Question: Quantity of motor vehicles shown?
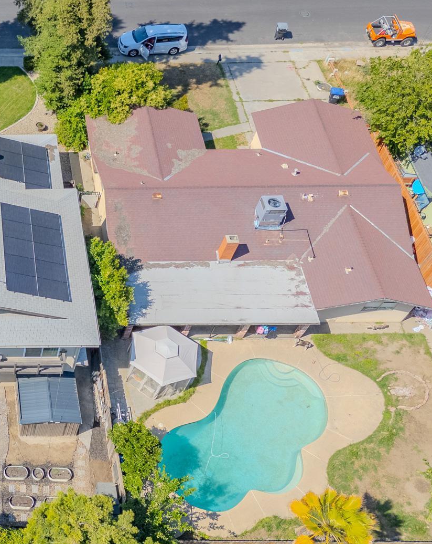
two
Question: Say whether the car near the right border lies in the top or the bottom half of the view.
top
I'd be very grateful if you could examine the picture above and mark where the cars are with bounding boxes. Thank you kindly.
[116,20,189,61]
[364,17,416,47]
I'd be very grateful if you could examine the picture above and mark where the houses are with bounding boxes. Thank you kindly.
[86,100,432,346]
[0,132,102,386]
